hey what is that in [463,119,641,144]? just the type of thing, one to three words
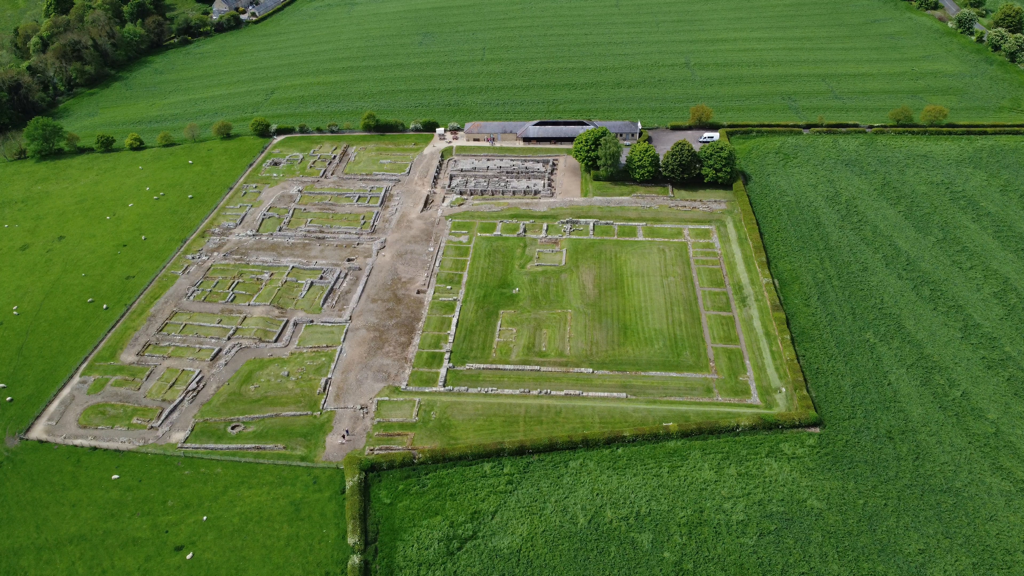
building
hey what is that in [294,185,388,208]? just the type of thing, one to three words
building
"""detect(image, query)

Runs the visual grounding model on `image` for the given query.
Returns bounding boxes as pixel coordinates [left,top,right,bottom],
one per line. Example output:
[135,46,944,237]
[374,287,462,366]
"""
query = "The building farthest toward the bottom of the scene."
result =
[365,431,437,455]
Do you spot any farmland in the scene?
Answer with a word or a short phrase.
Yes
